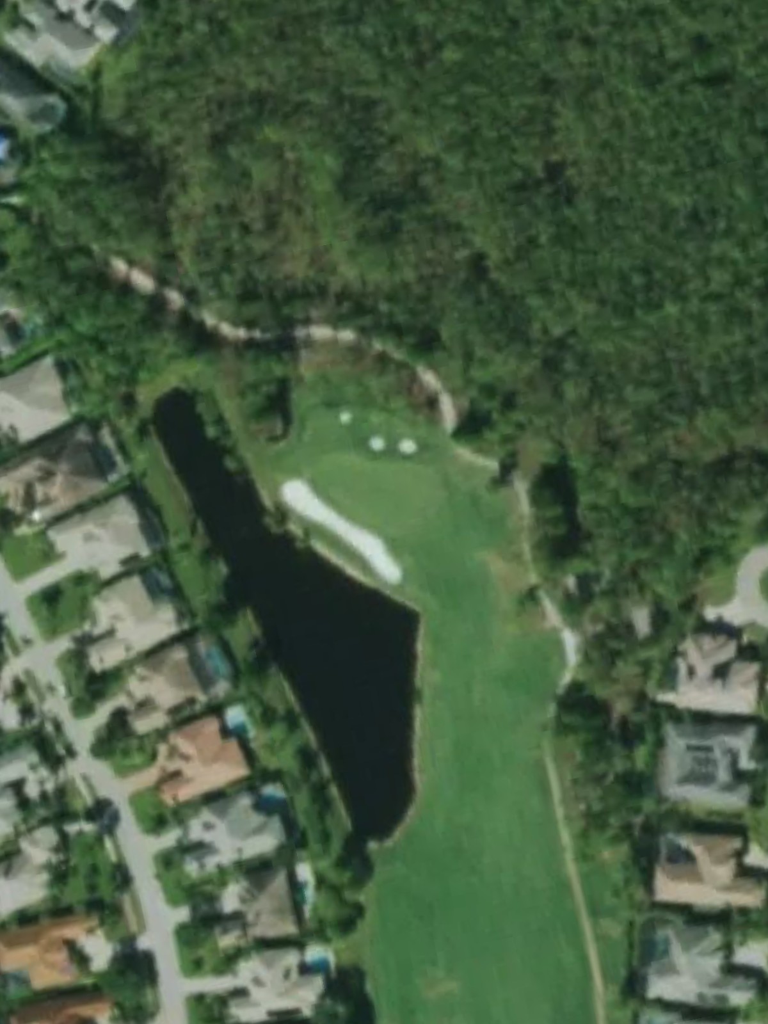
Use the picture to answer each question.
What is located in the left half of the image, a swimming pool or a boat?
swimming pool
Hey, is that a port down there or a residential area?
residential area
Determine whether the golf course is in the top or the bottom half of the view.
bottom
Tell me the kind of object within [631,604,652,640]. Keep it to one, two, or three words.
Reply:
shed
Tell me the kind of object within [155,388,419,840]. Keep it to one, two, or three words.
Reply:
pond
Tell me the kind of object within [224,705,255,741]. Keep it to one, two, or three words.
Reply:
swimming pool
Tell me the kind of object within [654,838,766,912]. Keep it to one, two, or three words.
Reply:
house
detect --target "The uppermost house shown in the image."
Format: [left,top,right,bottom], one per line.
[9,0,137,73]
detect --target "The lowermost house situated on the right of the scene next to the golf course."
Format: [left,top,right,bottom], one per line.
[648,928,758,1014]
